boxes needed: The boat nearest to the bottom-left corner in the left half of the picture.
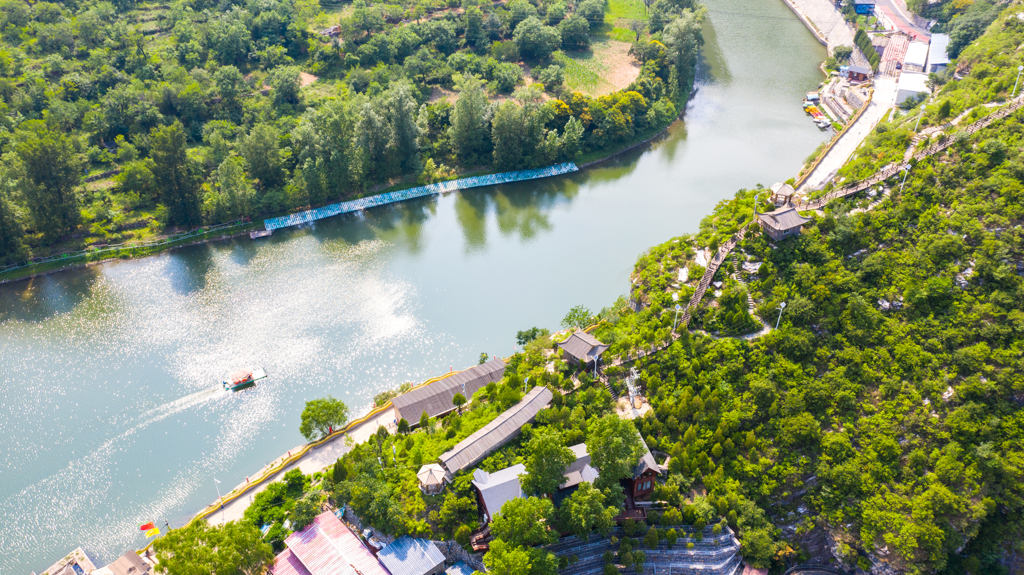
[222,368,272,392]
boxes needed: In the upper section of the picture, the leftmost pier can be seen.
[264,162,579,230]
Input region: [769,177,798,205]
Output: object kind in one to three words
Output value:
building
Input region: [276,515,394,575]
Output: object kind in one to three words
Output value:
shed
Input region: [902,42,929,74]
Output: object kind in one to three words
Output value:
building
